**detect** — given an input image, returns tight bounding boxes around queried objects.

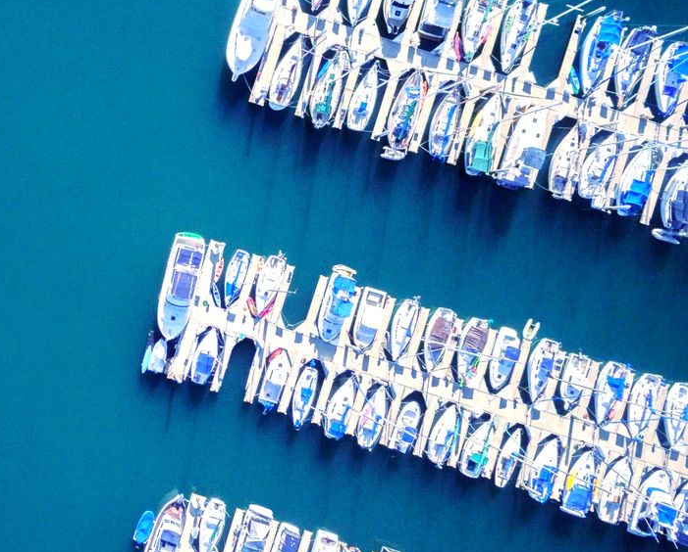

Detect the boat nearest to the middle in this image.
[333,264,359,279]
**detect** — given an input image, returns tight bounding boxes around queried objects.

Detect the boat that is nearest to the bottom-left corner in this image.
[131,512,154,547]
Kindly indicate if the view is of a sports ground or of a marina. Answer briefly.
marina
